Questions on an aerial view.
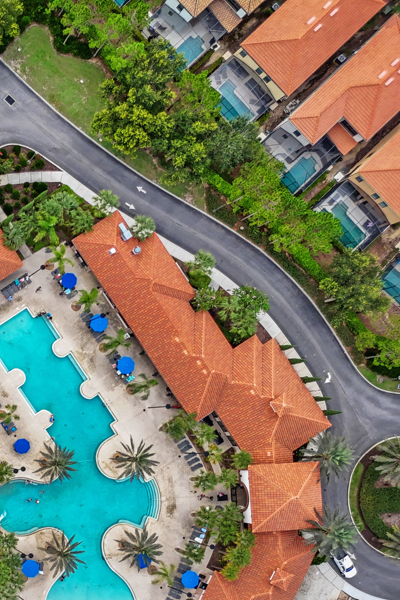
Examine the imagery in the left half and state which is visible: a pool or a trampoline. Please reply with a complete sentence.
Visible in the left half is a pool.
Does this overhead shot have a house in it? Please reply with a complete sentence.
Yes, I can see a house in this picture.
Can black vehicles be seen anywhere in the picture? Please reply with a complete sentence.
No, the picture doesn't show any black vehicle.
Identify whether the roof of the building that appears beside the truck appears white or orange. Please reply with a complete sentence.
The roof of the building that appears beside the truck looks orange in the image.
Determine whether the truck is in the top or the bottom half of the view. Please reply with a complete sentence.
You can find the truck in the bottom half.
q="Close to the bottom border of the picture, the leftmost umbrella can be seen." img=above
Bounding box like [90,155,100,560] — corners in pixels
[20,559,39,578]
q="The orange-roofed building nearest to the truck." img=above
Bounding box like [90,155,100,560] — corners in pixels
[71,210,333,600]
